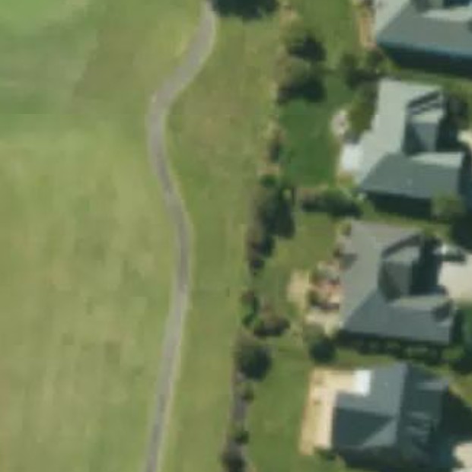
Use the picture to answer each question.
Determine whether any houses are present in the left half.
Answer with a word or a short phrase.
No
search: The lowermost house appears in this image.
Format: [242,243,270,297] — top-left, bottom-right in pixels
[325,361,443,466]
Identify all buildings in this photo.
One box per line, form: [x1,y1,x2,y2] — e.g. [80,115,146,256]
[336,222,454,351]
[325,361,443,466]
[375,0,472,63]
[353,82,468,208]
